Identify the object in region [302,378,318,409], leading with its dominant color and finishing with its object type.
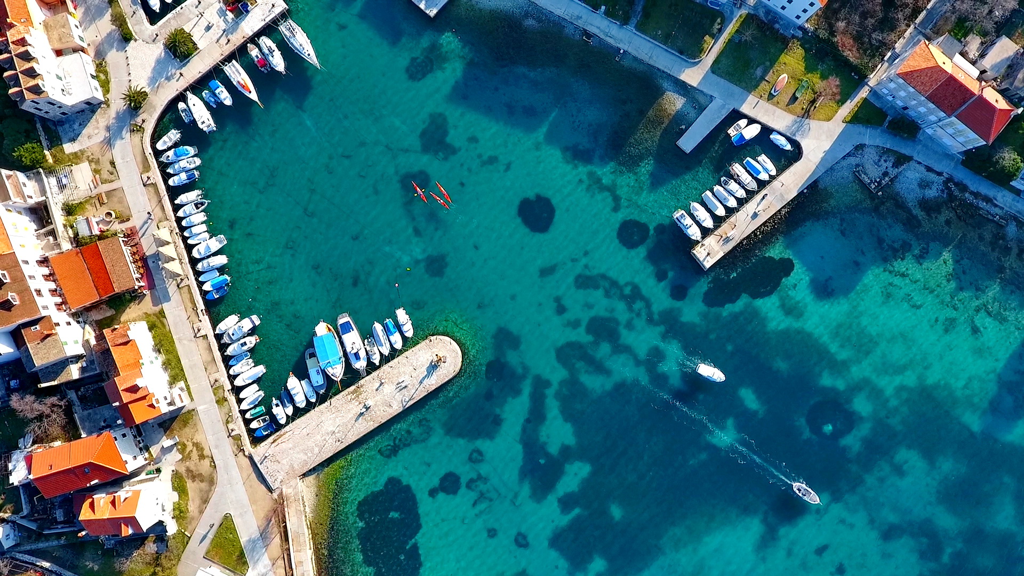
blue boat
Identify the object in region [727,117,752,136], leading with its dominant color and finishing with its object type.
white boat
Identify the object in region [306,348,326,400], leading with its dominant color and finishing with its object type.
blue boat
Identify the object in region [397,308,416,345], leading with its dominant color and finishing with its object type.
white boat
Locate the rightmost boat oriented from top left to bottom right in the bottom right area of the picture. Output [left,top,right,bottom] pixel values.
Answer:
[792,481,821,504]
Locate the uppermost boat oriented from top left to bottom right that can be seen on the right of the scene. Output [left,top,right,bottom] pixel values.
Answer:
[770,127,794,152]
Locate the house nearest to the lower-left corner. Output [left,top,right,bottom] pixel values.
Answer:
[0,515,30,551]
